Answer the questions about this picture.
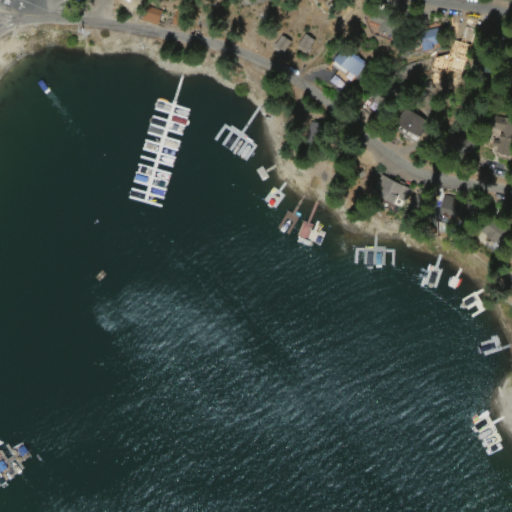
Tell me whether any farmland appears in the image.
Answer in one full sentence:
No, there is no farmland in the image.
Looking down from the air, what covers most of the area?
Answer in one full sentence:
The largest share of the image is taken up by water.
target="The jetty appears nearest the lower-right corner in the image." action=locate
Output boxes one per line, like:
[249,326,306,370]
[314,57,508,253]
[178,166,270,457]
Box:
[474,410,505,455]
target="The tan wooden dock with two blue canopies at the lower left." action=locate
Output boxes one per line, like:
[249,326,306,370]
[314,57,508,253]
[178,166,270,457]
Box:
[0,444,32,481]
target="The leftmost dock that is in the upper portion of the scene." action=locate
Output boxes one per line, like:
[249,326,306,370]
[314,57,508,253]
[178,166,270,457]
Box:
[129,74,190,208]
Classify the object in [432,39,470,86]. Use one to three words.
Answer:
house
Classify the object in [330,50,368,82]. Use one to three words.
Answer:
house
